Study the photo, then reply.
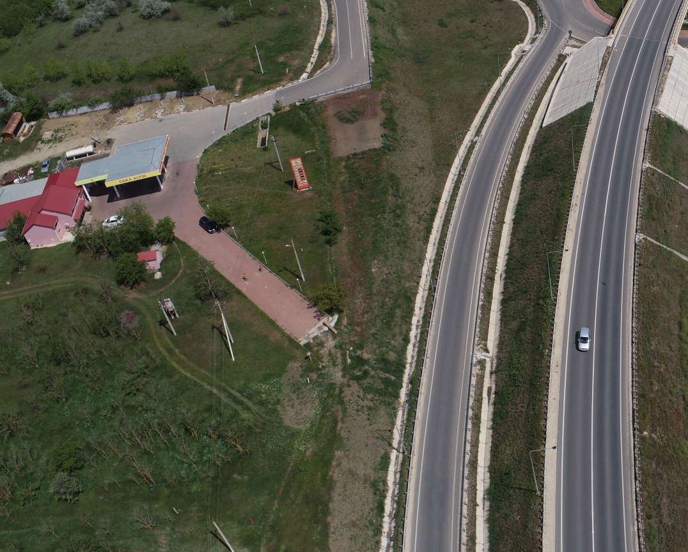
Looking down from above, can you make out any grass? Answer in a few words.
Yes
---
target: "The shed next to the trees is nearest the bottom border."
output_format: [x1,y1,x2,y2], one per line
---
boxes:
[137,250,161,271]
